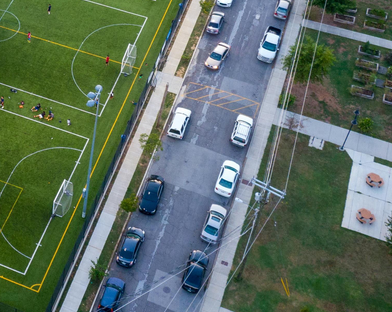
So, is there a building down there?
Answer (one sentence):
No, no building is visible in the scene.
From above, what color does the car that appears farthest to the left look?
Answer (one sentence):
The car that appears farthest to the left looks blue in the image.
